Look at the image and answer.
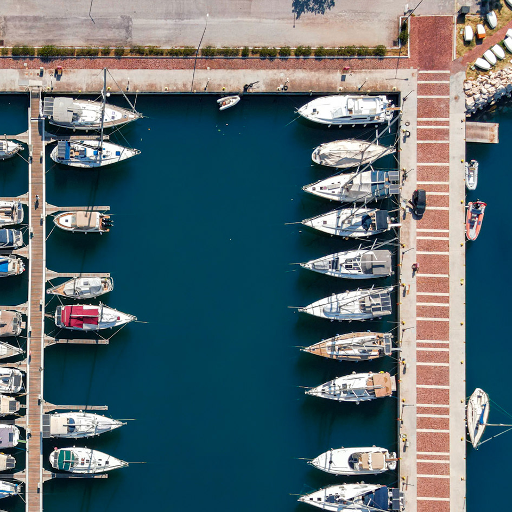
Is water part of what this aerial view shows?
Yes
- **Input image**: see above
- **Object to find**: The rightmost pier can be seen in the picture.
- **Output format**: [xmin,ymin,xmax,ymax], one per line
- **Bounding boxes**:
[466,121,500,144]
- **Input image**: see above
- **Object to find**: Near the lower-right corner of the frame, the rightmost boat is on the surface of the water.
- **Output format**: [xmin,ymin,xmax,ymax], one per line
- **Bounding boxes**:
[465,389,512,461]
